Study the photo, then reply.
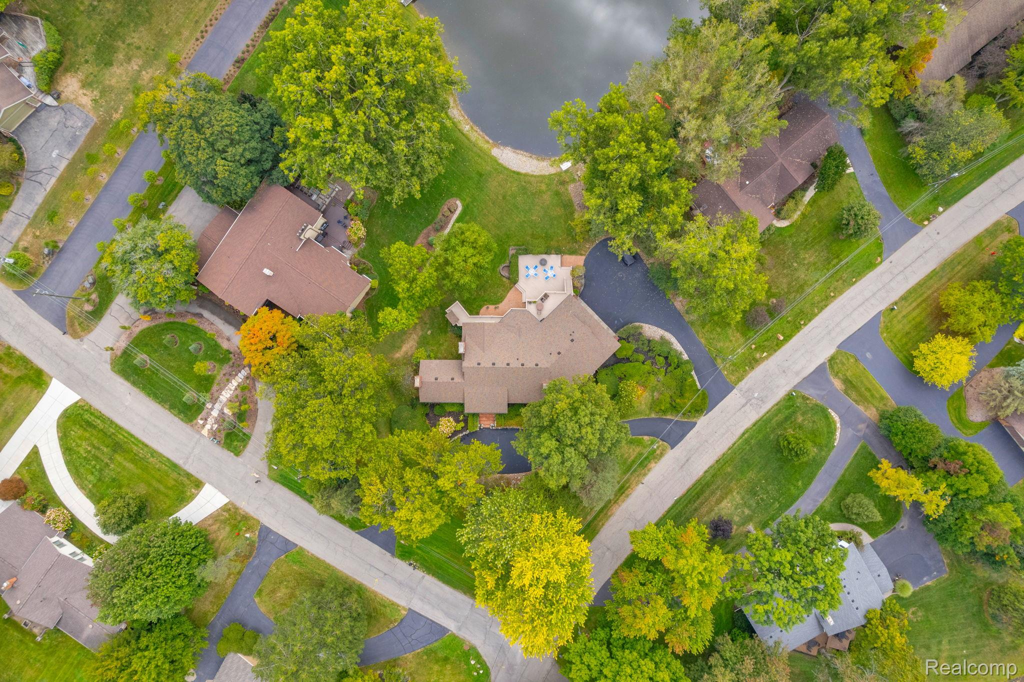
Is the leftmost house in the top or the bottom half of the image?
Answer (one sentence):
It is in the top half that the leftmost house appears.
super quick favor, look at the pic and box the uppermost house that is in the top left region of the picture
[0,49,46,133]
